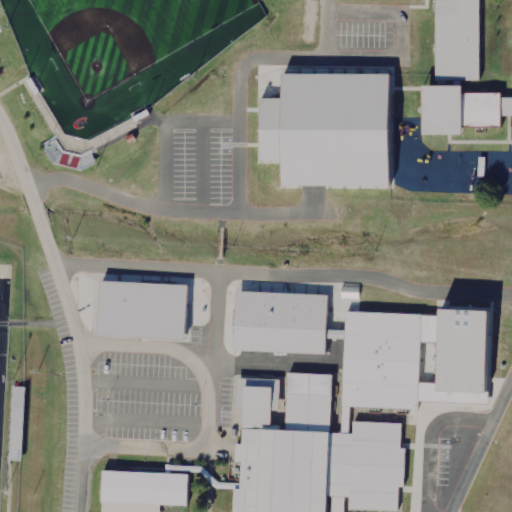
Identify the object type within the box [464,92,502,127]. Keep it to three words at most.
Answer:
house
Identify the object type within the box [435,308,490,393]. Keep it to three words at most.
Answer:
building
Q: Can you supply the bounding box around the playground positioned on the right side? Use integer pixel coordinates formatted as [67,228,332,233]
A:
[394,118,512,194]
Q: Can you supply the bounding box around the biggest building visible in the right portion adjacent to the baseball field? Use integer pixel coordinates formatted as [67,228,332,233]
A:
[280,74,392,189]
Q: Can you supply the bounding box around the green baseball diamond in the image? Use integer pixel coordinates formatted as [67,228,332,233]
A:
[0,0,266,140]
